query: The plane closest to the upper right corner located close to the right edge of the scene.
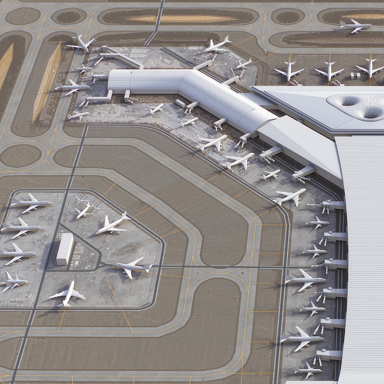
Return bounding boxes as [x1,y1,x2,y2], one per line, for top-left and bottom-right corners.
[341,18,372,31]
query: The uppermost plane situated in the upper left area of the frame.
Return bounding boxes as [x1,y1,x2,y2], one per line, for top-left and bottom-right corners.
[65,30,94,52]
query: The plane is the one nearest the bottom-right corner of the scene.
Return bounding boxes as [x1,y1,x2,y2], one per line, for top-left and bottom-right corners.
[295,362,321,379]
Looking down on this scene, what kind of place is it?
airport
